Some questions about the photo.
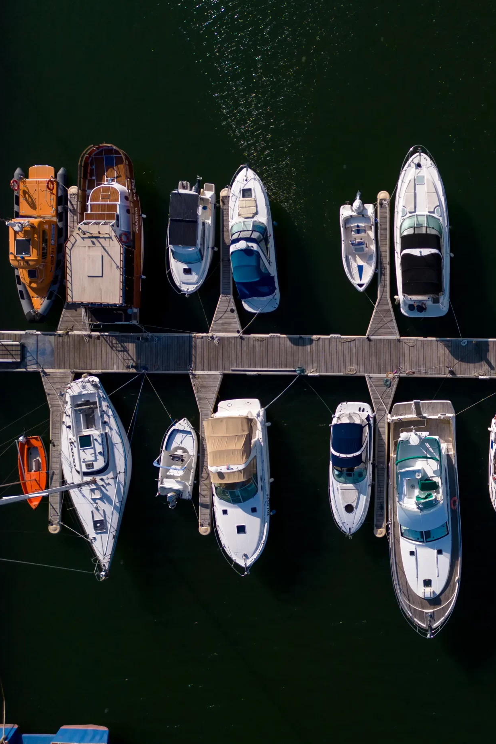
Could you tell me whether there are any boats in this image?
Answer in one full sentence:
Yes, I can see a boat in this picture.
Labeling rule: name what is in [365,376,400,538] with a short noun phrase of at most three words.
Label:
pier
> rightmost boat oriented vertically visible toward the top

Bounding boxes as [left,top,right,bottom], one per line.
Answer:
[395,145,450,317]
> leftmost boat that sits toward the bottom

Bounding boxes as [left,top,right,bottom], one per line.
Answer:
[0,428,50,510]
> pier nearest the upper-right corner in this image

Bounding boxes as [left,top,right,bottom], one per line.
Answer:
[365,191,401,337]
